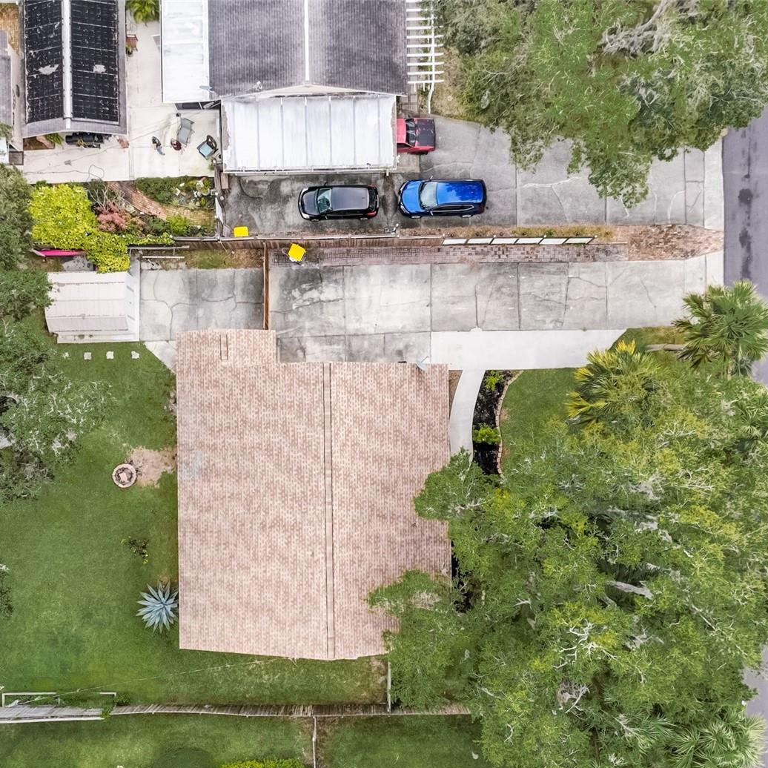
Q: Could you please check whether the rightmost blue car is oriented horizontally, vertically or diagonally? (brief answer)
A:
horizontally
